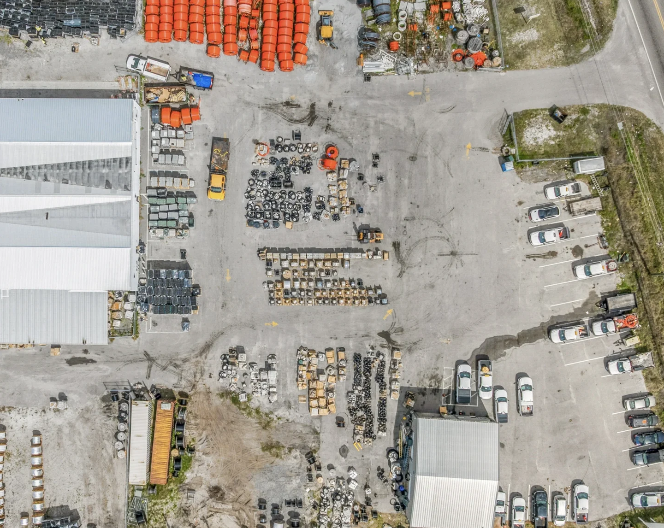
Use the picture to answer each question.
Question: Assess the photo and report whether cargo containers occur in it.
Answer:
Yes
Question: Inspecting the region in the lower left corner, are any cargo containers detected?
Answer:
Yes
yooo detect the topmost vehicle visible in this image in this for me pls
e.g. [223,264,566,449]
[317,8,337,56]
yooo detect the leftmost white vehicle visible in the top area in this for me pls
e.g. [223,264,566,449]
[127,56,172,83]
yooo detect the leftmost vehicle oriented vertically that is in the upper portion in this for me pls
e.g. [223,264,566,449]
[207,138,229,202]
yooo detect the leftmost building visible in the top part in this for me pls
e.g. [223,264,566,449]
[0,97,139,292]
